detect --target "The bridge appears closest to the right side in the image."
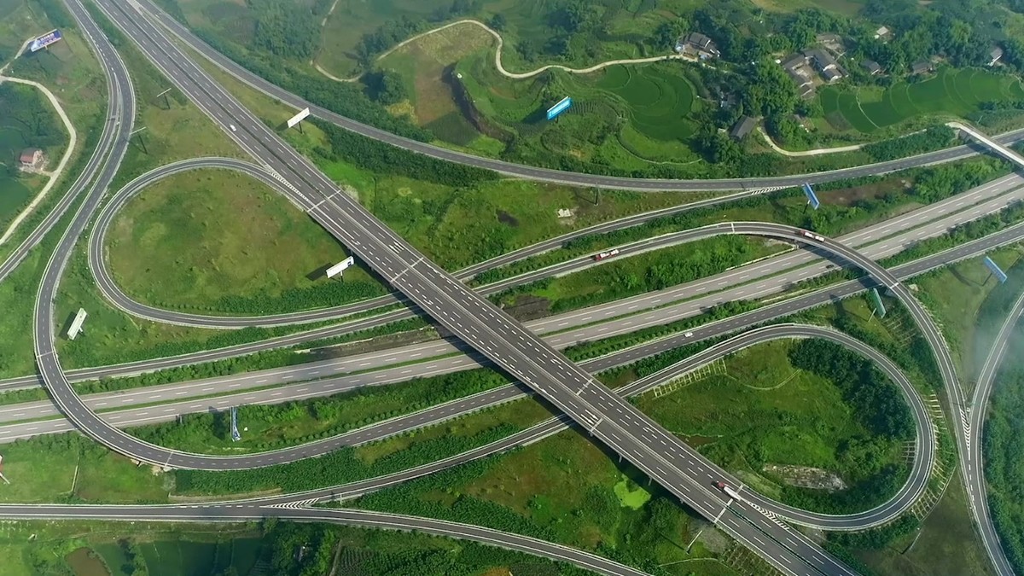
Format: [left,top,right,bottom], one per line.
[944,121,1024,173]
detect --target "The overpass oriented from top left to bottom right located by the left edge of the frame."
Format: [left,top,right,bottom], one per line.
[35,349,174,468]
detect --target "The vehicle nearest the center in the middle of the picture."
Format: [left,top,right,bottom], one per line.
[595,248,620,260]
